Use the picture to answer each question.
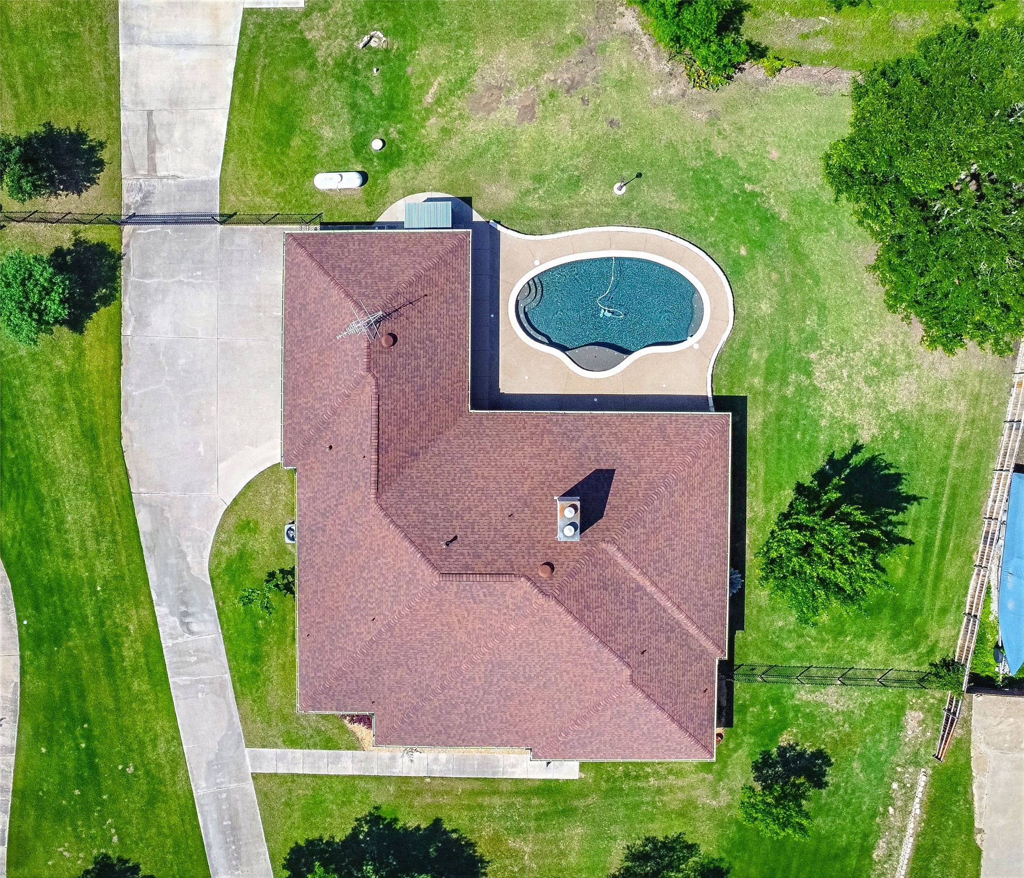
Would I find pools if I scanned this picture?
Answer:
Yes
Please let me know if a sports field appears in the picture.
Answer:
No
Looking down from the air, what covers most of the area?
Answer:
grass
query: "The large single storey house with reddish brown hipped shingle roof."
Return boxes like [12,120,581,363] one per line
[281,230,731,760]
